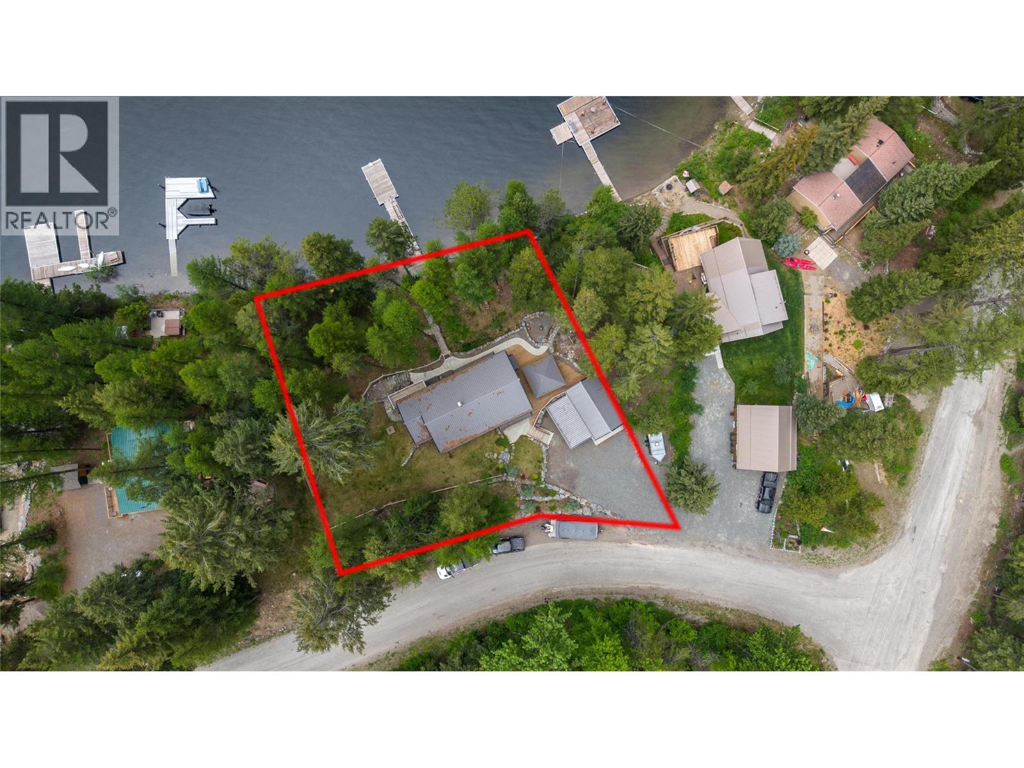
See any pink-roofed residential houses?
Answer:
Yes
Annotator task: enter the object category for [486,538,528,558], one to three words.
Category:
vehicle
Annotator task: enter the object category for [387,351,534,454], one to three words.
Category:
house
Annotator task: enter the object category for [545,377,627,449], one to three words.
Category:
building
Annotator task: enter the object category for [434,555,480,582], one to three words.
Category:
truck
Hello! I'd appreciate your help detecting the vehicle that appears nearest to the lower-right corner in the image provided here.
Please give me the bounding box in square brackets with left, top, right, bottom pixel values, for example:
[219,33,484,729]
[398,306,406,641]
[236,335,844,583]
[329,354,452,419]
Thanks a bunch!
[759,471,781,516]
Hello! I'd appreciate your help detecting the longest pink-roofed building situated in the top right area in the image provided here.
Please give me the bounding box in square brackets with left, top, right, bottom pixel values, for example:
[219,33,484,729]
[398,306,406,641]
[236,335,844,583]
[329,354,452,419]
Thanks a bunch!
[787,127,919,248]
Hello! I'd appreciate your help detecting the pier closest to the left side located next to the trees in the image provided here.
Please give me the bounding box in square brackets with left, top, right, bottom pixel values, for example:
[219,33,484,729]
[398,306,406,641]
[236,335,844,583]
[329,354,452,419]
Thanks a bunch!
[24,209,125,294]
